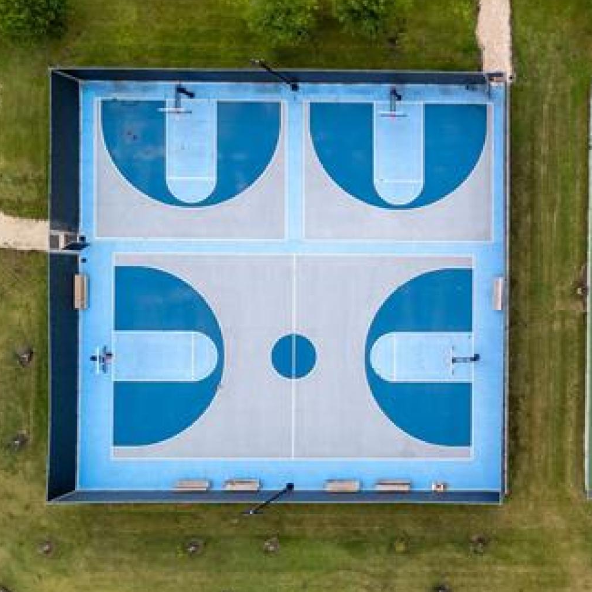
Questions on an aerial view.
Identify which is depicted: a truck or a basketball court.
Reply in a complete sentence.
There is a basketball court in the scene.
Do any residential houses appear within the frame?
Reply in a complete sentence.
No, there isn't any residential house down there.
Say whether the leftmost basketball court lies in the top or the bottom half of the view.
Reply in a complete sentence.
You can find the leftmost basketball court in the top half.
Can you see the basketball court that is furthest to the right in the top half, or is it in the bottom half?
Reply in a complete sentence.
The basketball court that is furthest to the right sits in the top half of the picture.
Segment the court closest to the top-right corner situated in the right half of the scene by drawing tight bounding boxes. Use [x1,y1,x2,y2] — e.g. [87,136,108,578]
[302,100,493,242]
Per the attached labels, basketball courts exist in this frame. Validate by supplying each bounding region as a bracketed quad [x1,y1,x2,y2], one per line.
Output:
[110,253,474,460]
[302,100,493,242]
[94,98,286,240]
